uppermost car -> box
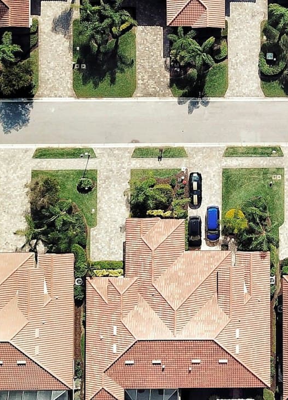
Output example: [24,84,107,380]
[187,171,202,206]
